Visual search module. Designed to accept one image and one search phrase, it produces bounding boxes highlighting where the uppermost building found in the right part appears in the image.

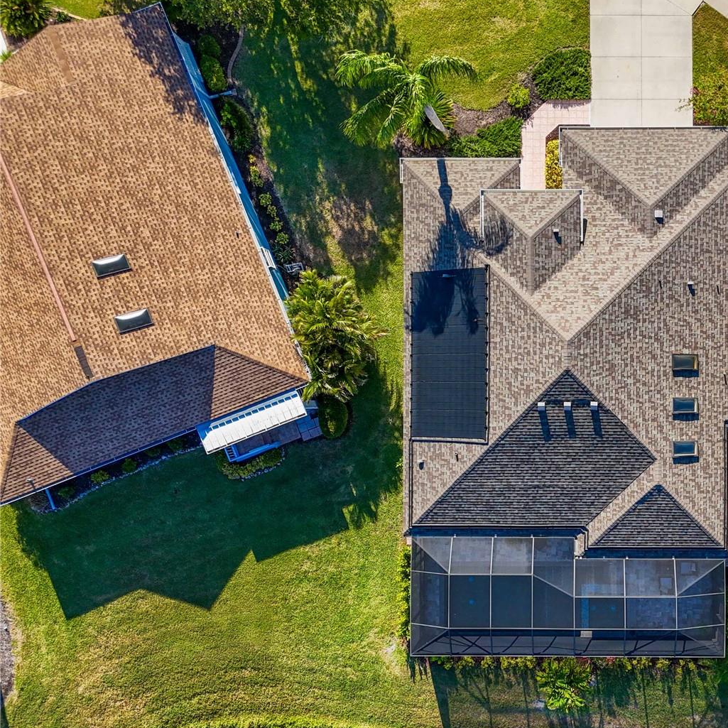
[400,125,728,556]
